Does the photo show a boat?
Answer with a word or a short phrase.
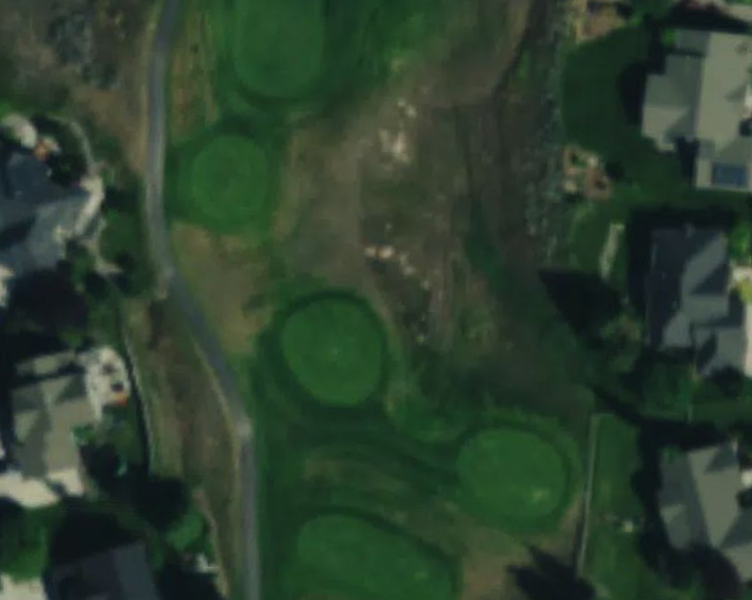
No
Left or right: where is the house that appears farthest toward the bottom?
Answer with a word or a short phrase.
left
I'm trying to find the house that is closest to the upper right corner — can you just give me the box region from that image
[640,24,752,191]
